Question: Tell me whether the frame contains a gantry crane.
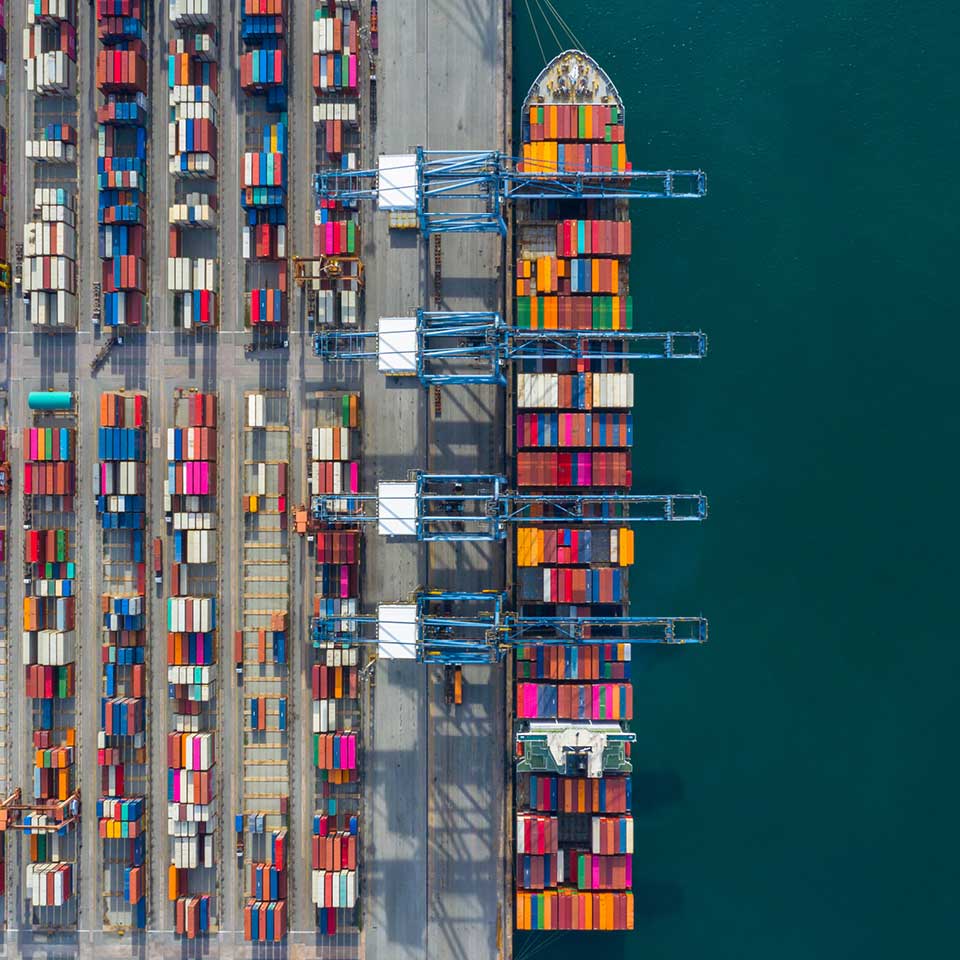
Yes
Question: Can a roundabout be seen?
No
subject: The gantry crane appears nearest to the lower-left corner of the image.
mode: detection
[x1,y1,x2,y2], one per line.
[0,789,82,831]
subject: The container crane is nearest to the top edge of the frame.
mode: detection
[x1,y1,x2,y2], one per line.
[311,147,708,257]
